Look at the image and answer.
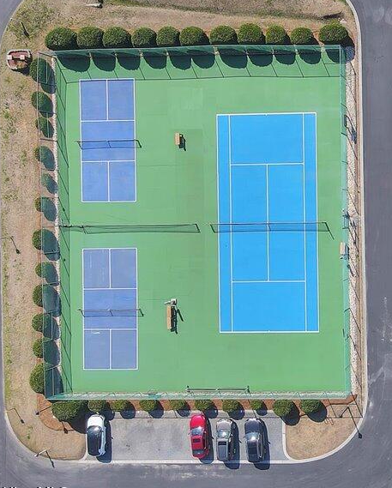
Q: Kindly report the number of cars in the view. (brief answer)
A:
four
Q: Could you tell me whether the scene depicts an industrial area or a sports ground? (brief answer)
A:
sports ground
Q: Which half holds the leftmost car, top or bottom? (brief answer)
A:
bottom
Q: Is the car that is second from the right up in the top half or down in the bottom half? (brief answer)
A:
bottom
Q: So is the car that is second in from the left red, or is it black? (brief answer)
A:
red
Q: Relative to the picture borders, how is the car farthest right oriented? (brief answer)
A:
up and down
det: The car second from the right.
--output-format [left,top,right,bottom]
[215,418,236,462]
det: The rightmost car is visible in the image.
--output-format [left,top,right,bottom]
[242,417,265,463]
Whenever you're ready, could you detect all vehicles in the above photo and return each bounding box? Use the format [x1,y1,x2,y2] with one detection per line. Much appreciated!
[85,413,109,456]
[215,418,236,462]
[188,414,210,459]
[242,417,265,463]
